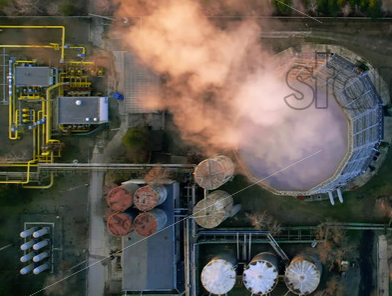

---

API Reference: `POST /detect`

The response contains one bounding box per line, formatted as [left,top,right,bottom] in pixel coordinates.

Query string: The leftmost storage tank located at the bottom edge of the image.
[201,252,241,294]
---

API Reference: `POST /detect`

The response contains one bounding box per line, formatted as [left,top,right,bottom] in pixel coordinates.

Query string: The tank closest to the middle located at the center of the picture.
[194,152,235,191]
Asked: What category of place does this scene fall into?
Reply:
industrial area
